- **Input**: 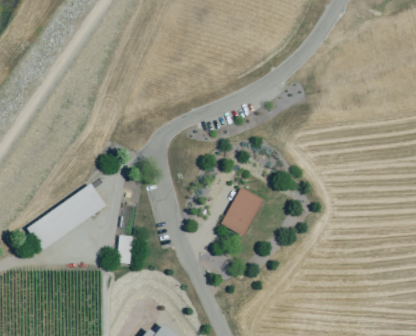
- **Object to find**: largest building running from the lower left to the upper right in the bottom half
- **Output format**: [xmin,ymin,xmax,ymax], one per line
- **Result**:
[27,185,106,250]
